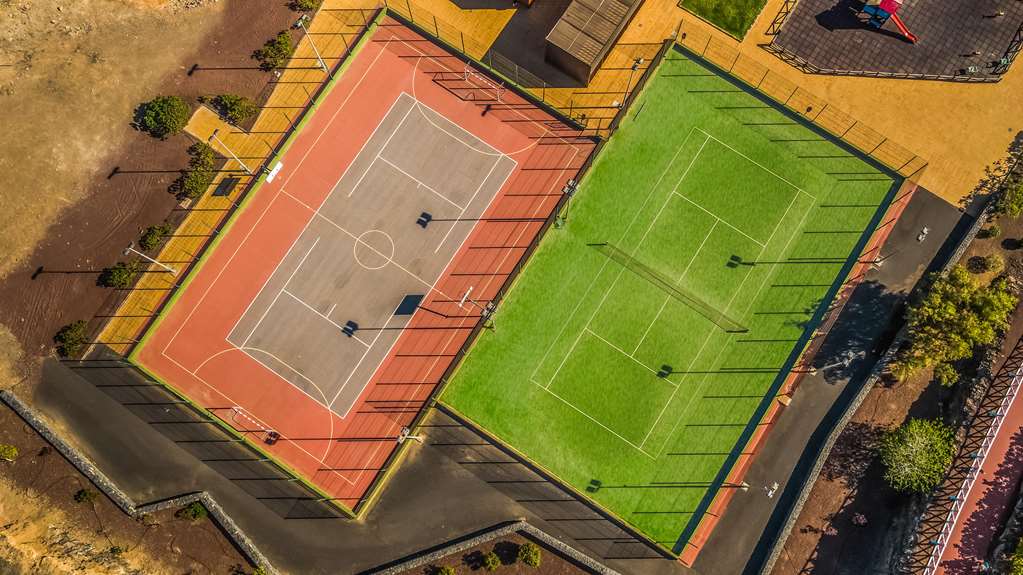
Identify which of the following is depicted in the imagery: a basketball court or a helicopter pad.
basketball court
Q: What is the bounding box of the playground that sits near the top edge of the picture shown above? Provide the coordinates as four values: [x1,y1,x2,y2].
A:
[771,0,1023,79]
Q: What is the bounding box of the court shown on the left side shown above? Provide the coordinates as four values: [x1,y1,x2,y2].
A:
[126,7,603,519]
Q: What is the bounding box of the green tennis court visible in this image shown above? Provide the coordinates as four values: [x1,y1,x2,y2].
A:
[358,39,910,559]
